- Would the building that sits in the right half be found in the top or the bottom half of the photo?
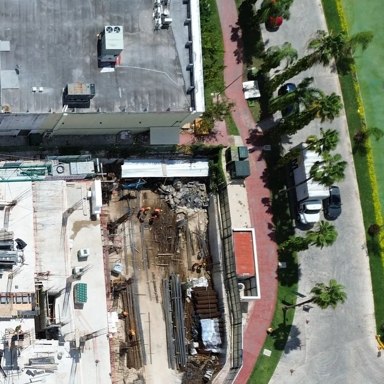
bottom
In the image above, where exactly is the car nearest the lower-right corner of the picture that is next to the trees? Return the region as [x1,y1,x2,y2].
[323,188,342,221]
